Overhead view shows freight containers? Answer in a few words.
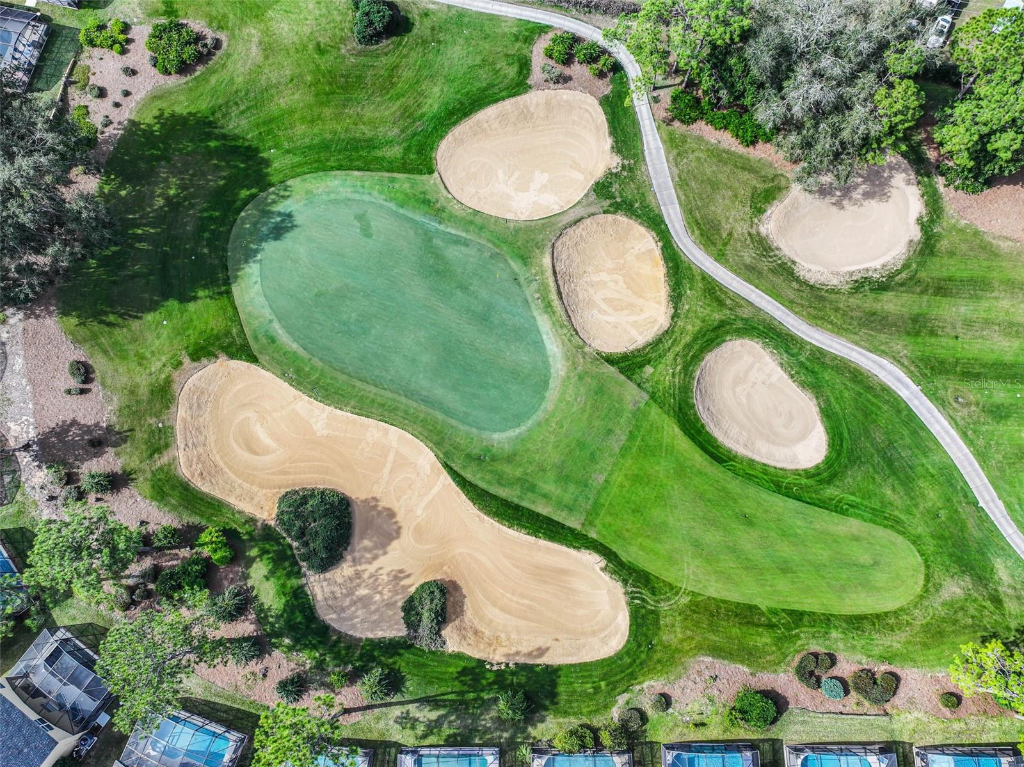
No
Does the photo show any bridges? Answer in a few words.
No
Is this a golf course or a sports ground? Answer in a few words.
golf course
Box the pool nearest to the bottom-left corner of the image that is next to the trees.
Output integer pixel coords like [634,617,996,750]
[20,627,113,731]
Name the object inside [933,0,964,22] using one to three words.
truck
